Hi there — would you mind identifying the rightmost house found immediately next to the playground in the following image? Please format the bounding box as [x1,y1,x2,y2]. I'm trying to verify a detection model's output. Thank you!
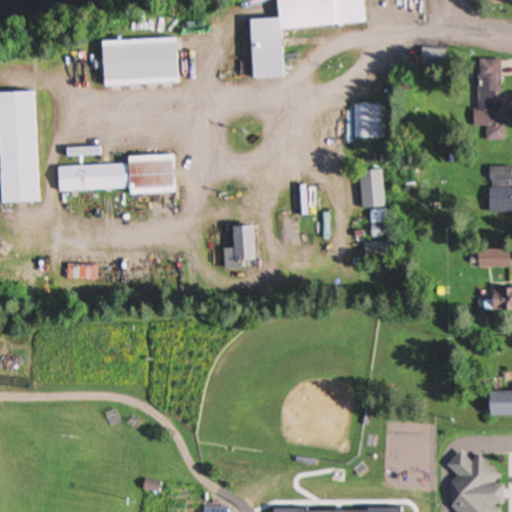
[444,450,502,512]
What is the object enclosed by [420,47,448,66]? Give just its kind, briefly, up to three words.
house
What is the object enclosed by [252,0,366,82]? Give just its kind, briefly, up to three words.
building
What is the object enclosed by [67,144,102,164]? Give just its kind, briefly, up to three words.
shed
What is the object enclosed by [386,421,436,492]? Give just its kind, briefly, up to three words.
playground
